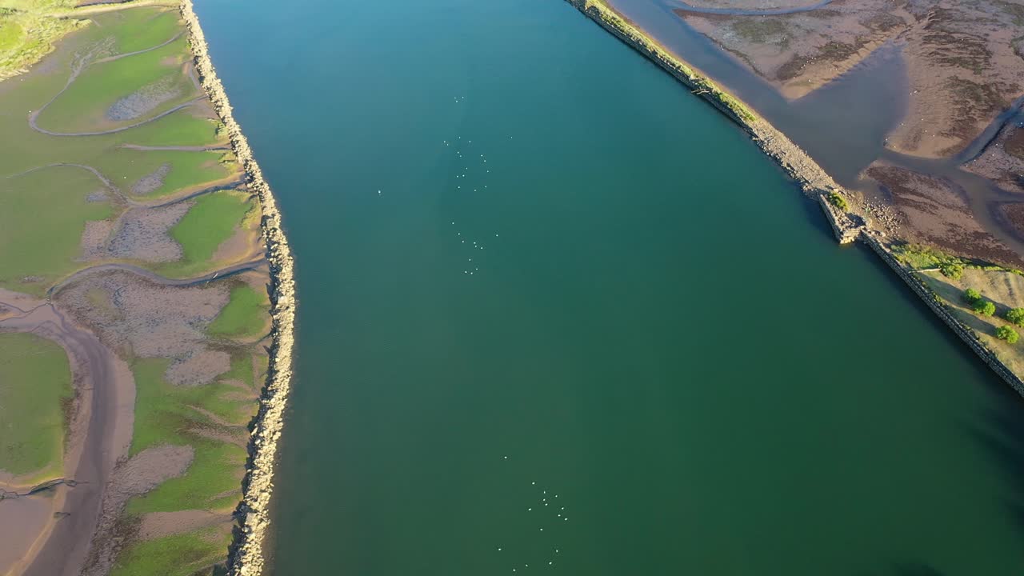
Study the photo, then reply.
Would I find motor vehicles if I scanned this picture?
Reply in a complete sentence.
No, I find no motor vehicle anywhere in the image.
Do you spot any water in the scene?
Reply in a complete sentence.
Yes, there is water in the image.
